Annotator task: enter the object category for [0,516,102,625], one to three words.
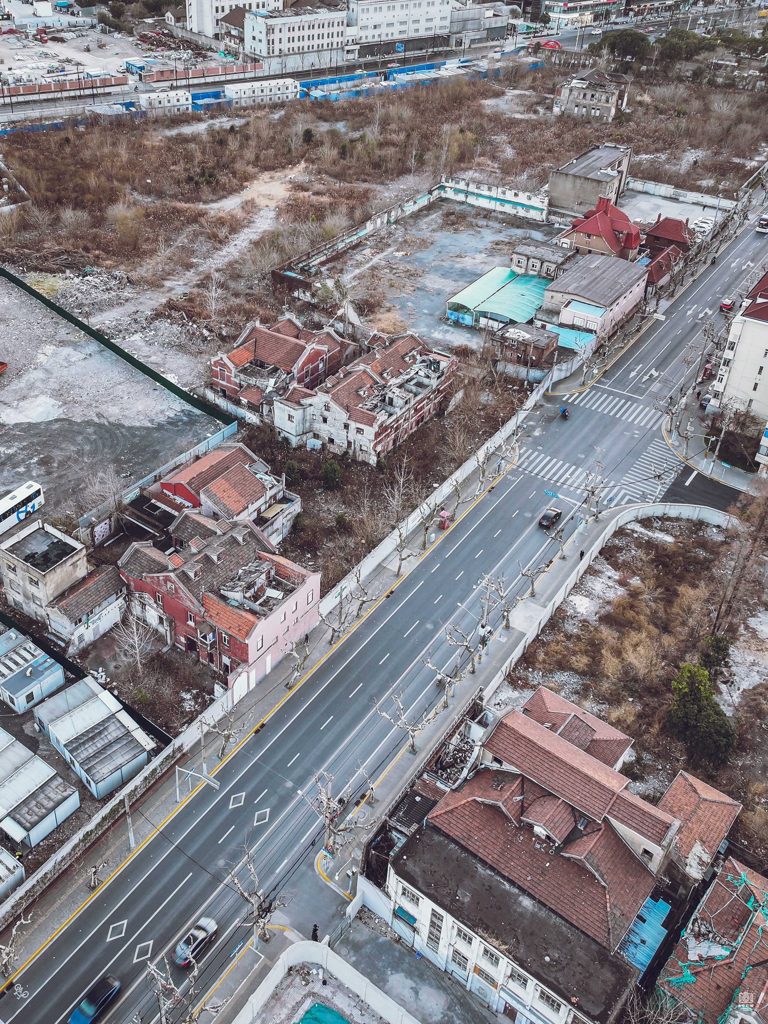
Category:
house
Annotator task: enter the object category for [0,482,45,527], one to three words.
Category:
bus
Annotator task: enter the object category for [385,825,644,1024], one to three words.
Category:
building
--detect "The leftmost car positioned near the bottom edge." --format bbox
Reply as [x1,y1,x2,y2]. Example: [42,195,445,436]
[69,973,118,1024]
